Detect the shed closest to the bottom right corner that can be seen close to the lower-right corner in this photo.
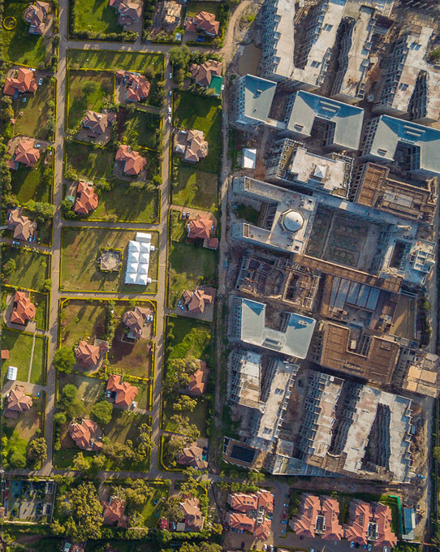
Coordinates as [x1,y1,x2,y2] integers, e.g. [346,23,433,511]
[398,508,416,541]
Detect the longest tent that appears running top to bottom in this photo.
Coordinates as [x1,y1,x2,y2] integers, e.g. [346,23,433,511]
[125,242,149,285]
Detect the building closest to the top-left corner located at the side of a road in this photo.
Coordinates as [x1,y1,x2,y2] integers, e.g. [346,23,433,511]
[22,0,53,39]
